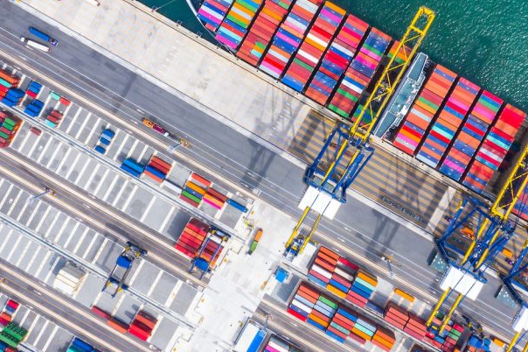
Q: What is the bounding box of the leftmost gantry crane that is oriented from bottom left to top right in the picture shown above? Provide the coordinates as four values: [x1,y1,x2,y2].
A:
[98,239,148,300]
